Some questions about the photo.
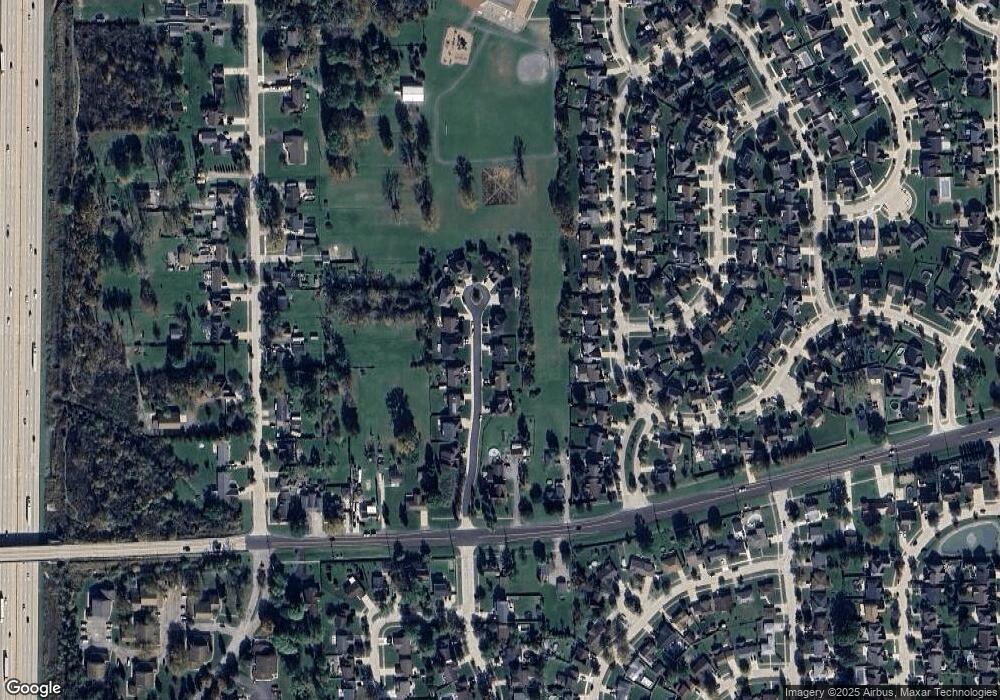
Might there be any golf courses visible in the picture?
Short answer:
No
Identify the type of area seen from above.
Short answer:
residential area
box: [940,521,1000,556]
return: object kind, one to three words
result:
pond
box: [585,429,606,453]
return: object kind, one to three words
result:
house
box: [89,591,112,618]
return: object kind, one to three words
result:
building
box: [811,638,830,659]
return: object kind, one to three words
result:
house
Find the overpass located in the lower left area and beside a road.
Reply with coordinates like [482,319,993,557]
[0,538,246,559]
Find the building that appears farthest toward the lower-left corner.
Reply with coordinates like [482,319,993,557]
[86,646,107,677]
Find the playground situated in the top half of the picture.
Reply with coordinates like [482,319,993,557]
[441,27,473,65]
